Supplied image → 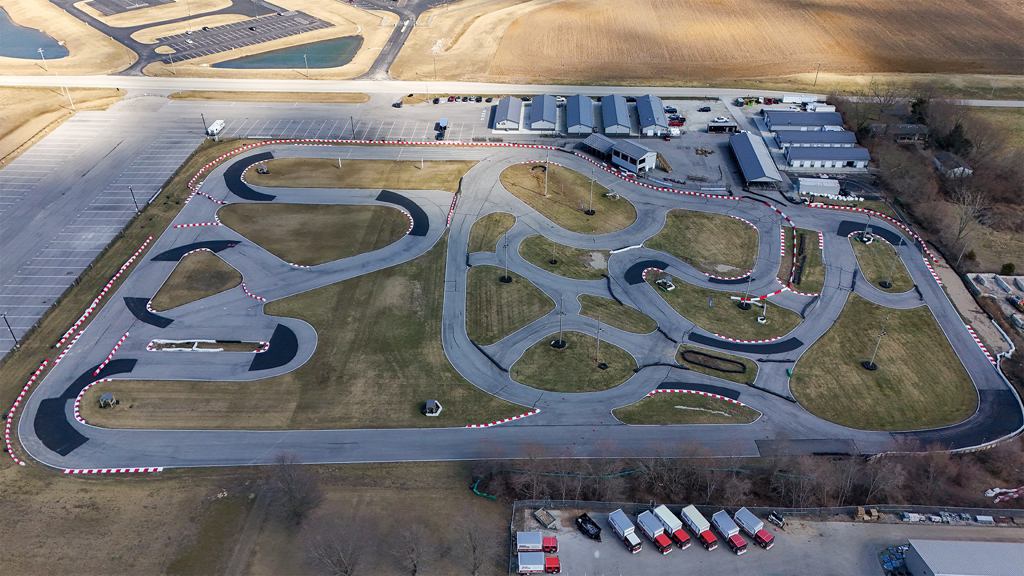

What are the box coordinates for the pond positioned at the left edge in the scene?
[0,7,69,59]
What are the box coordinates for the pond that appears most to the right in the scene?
[210,35,363,69]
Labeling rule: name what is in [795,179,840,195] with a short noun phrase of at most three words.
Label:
shed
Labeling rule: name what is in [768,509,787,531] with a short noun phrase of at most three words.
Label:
work vehicle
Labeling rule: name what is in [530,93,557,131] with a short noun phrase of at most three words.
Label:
building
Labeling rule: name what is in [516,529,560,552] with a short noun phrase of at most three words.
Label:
truck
